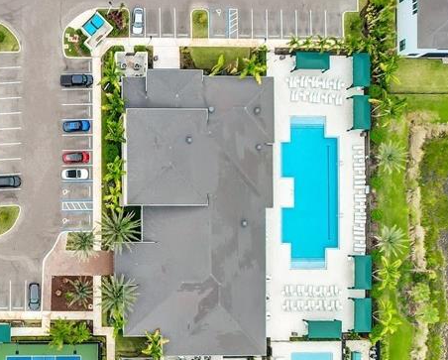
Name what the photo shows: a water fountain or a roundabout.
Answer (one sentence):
There is a water fountain in the scene.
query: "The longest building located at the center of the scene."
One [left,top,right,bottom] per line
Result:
[113,68,274,356]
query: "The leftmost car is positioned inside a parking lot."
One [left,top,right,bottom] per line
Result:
[0,174,20,187]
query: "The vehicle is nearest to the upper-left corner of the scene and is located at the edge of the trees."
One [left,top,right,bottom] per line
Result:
[60,73,94,86]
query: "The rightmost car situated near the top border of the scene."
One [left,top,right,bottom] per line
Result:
[131,7,144,35]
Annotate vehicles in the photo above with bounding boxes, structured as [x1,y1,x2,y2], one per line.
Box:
[60,73,94,86]
[131,7,144,35]
[63,119,89,132]
[27,282,41,308]
[62,149,88,163]
[62,167,88,180]
[0,174,20,187]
